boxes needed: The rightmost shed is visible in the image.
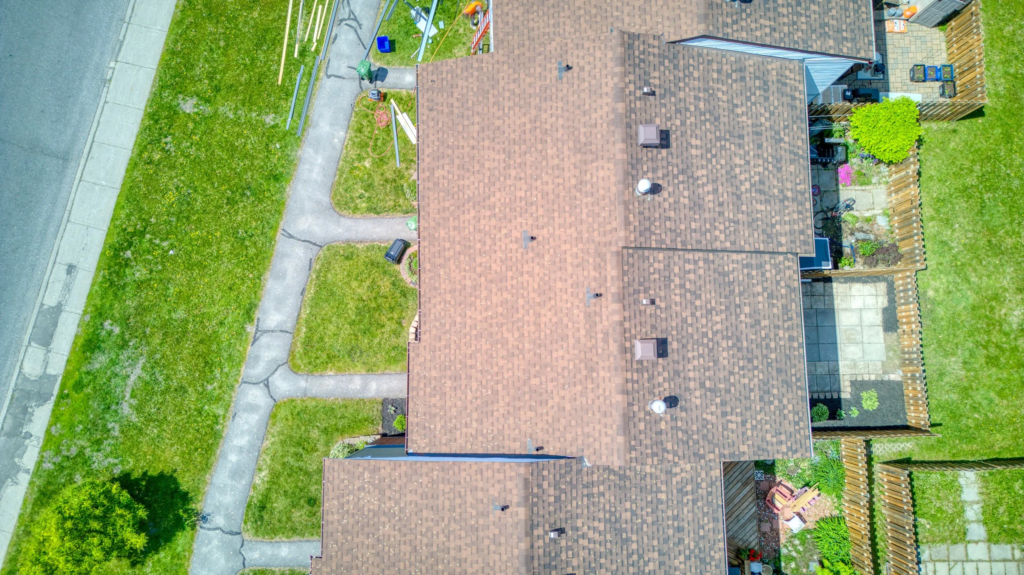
[909,0,977,31]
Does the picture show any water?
No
